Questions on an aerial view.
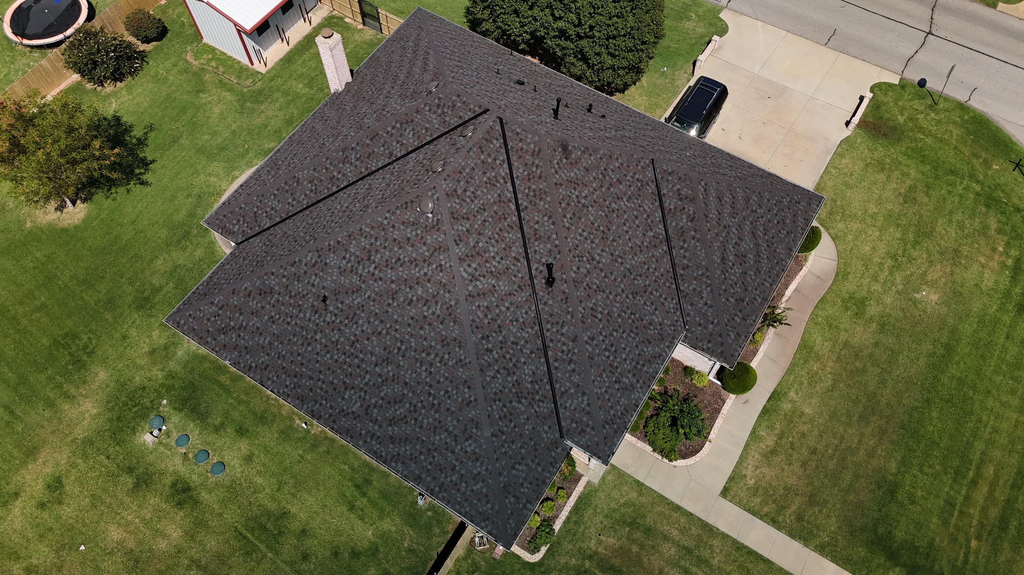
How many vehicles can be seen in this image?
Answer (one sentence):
The picture shows just 1 vehicle.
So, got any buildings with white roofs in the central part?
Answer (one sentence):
No, there's no building with a white roof to be seen in the central part.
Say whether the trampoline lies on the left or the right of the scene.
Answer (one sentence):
It is on the left.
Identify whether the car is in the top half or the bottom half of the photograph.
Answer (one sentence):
The car sits in the top half of the picture.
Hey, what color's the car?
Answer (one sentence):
The car looks black in the image.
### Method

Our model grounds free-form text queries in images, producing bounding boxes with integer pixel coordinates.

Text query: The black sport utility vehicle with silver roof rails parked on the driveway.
[662,70,729,139]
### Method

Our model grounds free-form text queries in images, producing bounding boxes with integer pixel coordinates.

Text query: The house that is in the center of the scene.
[163,5,825,553]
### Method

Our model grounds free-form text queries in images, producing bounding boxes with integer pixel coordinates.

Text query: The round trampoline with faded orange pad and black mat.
[4,0,95,55]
